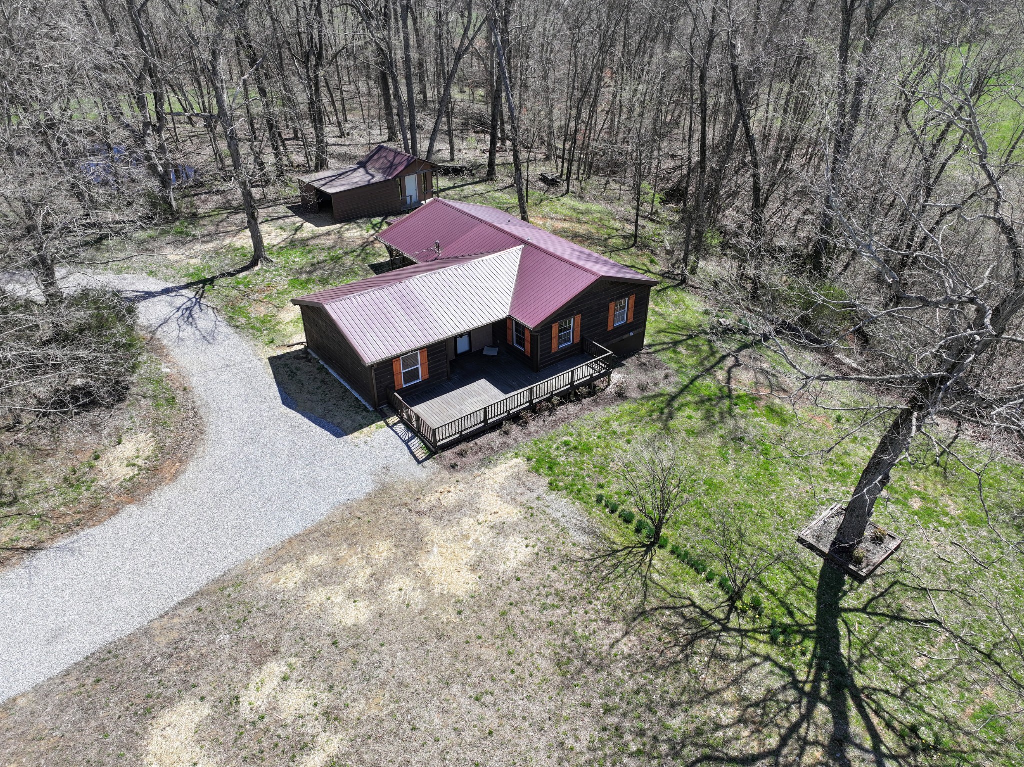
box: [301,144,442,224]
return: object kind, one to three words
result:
shed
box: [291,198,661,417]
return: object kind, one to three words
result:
house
